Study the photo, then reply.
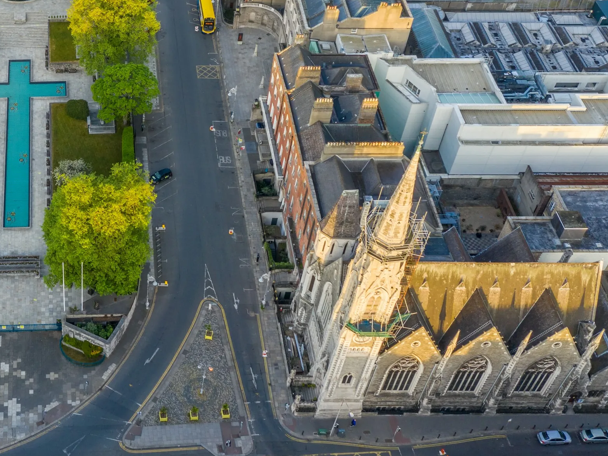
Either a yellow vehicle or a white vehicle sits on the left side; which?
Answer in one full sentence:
There is a yellow vehicle on the left side.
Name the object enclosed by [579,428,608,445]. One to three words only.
car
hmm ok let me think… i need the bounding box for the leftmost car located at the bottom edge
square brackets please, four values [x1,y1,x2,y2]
[535,429,575,447]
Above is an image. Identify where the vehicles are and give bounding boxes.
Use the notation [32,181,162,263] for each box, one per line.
[535,429,575,447]
[579,428,608,445]
[150,168,175,184]
[197,0,217,36]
